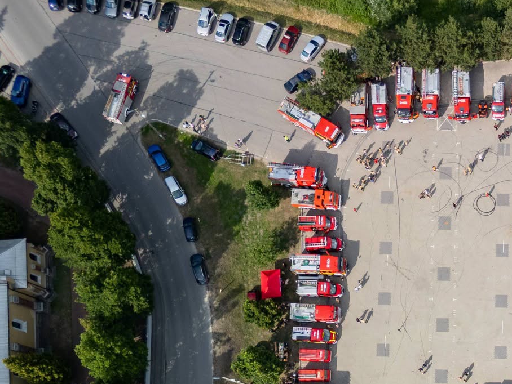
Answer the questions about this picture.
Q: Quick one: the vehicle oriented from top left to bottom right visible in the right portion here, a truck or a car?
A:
truck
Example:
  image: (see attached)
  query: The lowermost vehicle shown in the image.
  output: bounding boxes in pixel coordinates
[297,367,335,384]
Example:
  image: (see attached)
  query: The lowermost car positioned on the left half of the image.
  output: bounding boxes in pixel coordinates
[189,253,209,286]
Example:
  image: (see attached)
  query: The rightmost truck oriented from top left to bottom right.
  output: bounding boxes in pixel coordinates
[273,91,347,150]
